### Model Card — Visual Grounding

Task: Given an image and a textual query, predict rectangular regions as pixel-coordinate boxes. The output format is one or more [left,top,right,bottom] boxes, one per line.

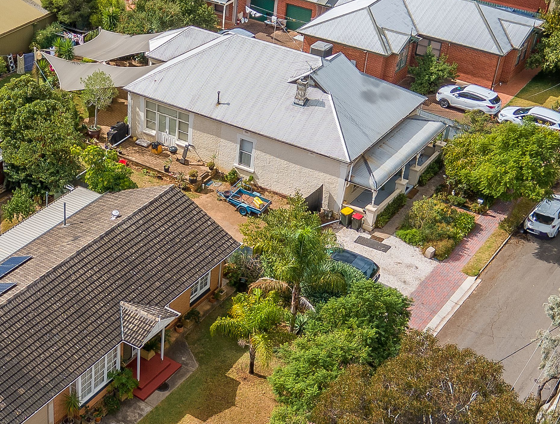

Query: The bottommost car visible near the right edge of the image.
[522,201,560,243]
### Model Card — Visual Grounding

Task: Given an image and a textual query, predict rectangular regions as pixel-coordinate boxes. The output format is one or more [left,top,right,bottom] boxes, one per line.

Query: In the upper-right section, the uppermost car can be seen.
[436,86,504,119]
